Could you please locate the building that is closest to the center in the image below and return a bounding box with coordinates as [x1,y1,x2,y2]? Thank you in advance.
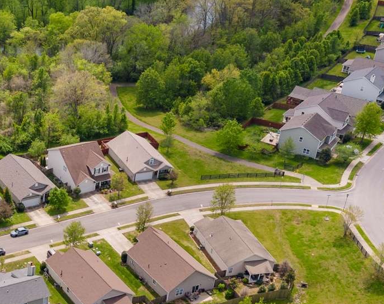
[107,131,176,182]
